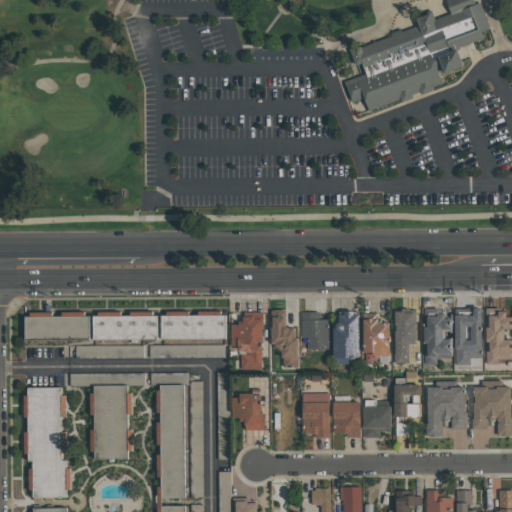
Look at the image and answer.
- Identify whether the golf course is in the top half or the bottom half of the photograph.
top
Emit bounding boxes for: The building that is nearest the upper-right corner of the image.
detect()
[342,0,490,110]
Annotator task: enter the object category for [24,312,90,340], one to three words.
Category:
building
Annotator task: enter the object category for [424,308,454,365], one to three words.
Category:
house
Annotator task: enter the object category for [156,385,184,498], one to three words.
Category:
building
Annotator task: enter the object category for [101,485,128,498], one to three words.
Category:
swimming pool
